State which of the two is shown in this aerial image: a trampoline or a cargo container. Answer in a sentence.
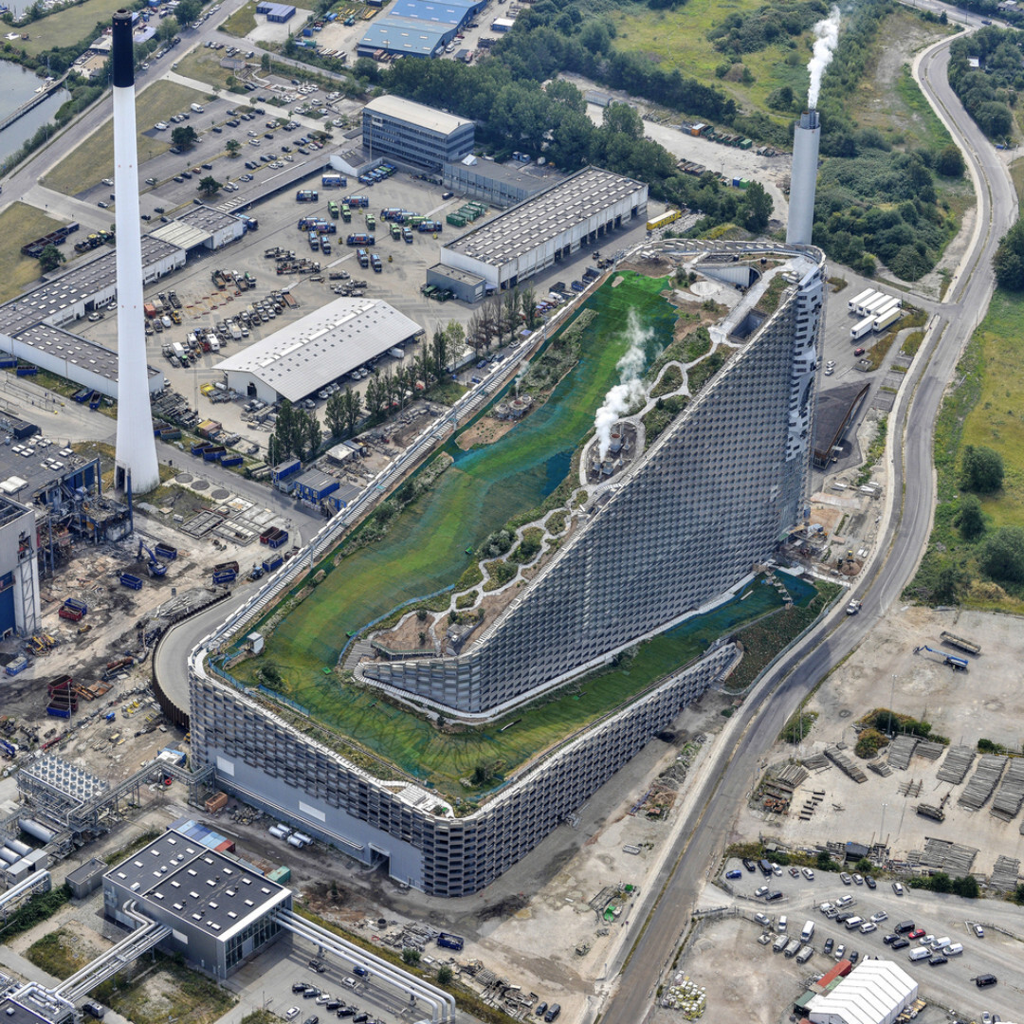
I can see a cargo container in this picture.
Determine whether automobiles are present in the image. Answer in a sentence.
Yes, the image includes an automobile.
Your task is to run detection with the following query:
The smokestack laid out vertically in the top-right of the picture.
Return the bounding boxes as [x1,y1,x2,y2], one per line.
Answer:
[791,110,824,245]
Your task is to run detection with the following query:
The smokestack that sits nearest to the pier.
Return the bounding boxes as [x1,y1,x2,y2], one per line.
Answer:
[107,8,159,494]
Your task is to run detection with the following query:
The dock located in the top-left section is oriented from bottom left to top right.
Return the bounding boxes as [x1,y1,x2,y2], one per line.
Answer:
[0,73,74,135]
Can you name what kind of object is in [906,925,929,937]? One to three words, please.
vehicle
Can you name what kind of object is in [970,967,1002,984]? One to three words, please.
vehicle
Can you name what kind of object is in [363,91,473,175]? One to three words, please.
building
